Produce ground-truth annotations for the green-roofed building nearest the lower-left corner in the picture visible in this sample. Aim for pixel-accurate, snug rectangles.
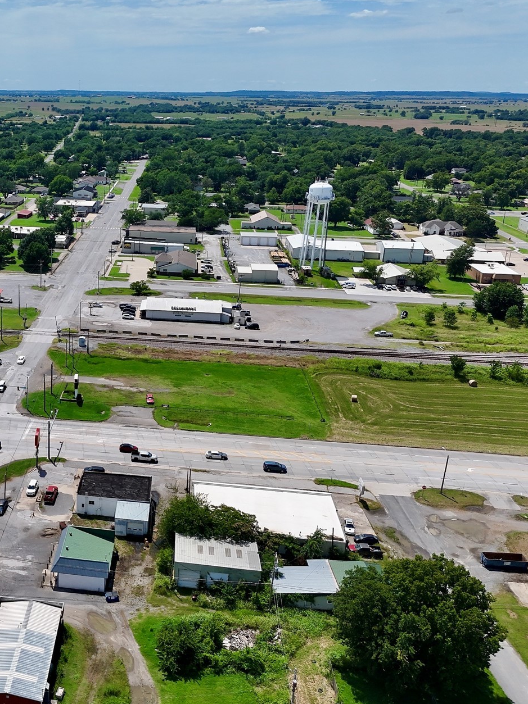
[40,523,116,591]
